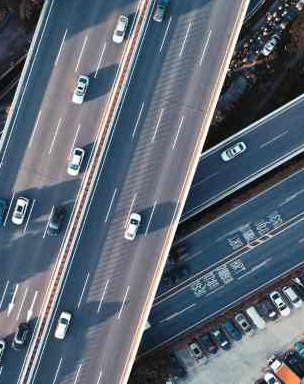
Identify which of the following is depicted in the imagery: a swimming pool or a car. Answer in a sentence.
The one in the frame is a car.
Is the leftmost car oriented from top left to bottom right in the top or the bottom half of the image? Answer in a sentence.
The leftmost car oriented from top left to bottom right sits in the bottom half of the picture.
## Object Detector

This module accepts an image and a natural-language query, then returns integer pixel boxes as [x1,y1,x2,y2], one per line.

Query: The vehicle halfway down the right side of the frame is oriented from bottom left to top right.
[220,141,247,161]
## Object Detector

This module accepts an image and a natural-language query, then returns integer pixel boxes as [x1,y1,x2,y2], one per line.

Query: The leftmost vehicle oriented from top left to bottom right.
[185,337,207,363]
